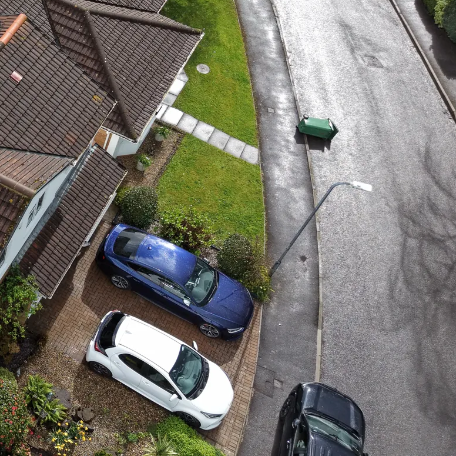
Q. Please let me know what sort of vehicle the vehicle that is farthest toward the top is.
automobile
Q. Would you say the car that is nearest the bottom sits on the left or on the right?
right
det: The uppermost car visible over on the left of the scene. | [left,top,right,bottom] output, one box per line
[94,225,258,343]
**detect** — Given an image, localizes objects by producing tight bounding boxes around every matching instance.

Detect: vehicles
[94,225,258,343]
[278,376,382,456]
[85,311,240,432]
